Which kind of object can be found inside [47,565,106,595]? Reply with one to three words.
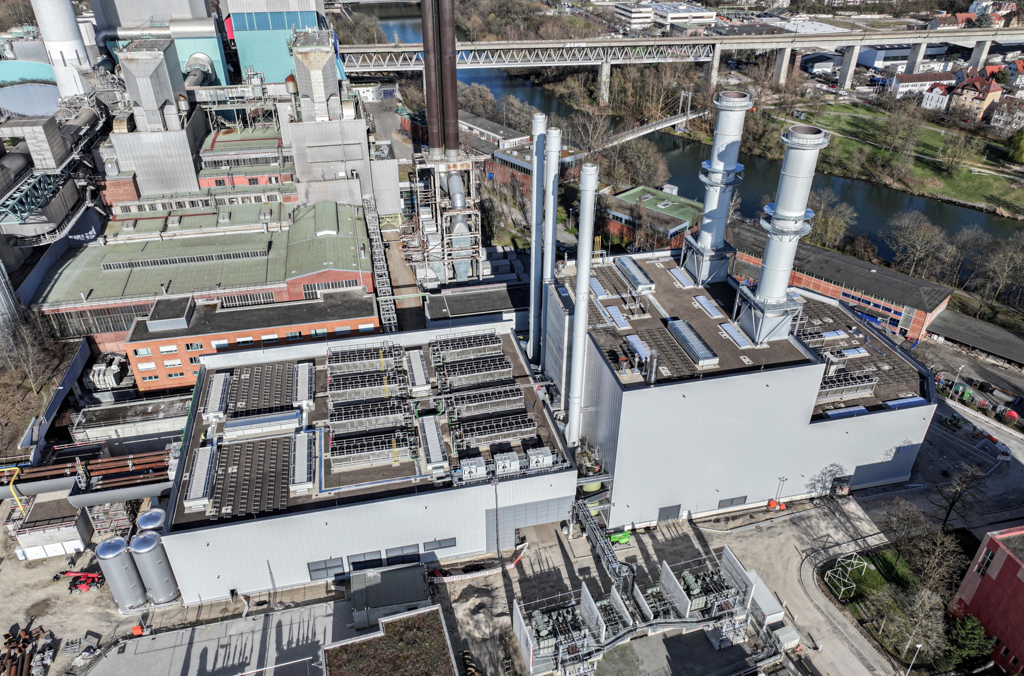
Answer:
work vehicle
